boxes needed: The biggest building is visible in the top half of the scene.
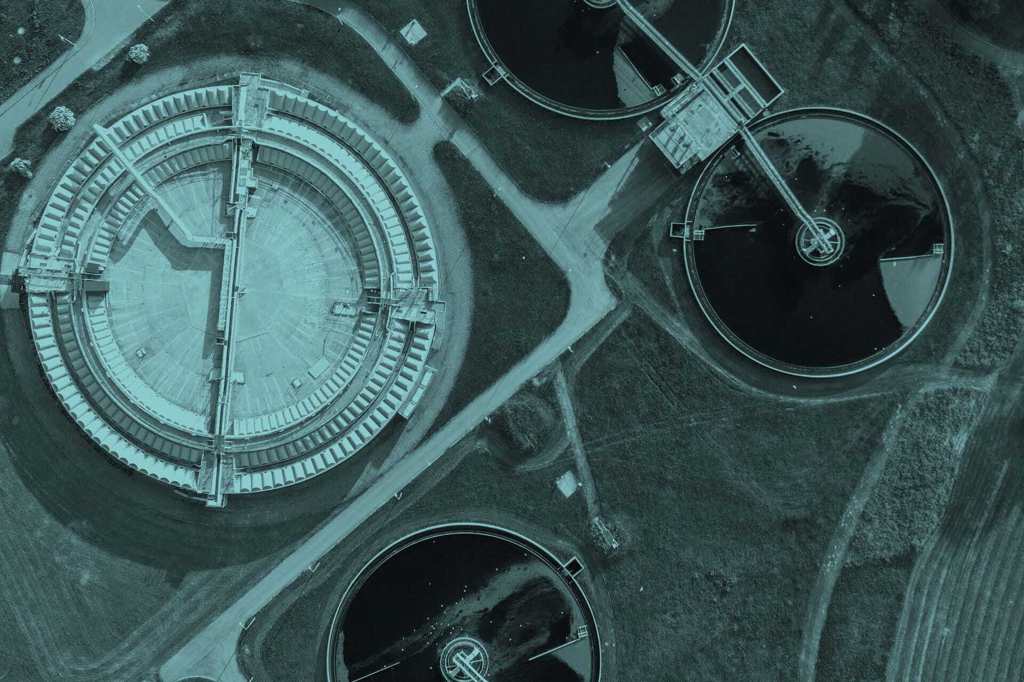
[645,44,784,178]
